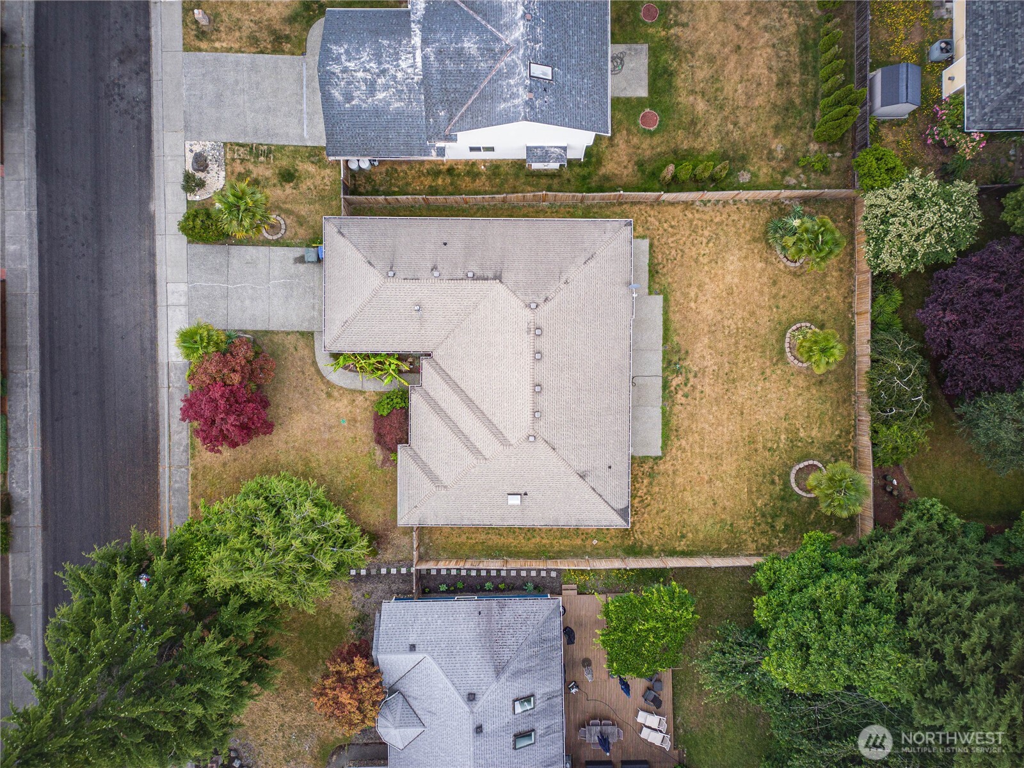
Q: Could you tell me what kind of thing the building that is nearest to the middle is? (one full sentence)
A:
It turns out the building that is nearest to the middle is a house.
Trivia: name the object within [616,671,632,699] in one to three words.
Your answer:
umbrella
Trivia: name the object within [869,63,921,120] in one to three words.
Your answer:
shed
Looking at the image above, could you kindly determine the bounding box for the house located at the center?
[324,217,634,528]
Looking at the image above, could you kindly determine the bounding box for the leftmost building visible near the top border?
[317,0,610,168]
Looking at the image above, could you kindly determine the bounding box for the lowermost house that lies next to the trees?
[373,595,564,768]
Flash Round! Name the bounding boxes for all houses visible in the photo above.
[317,0,610,168]
[324,217,634,528]
[373,595,564,768]
[942,0,1024,133]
